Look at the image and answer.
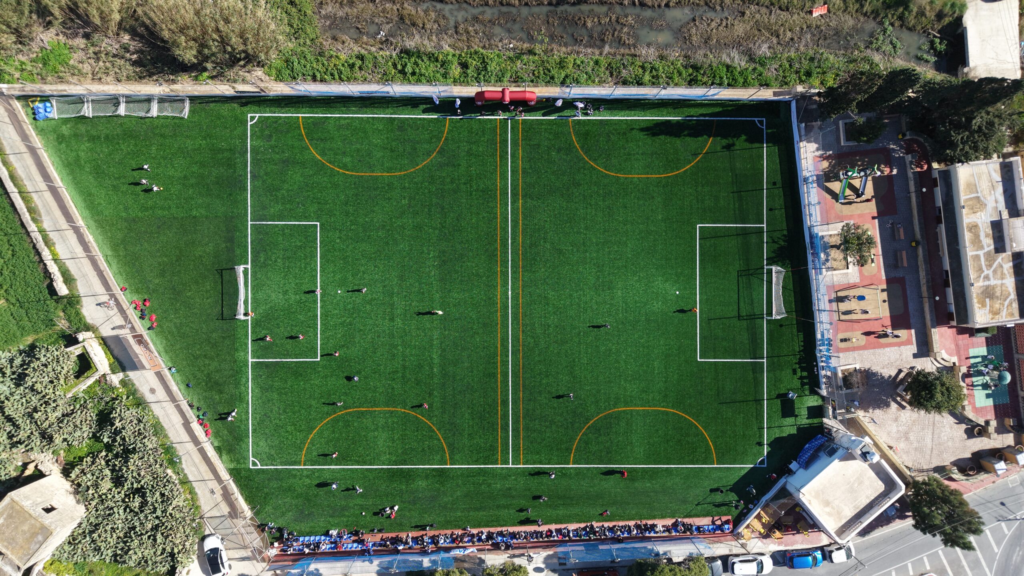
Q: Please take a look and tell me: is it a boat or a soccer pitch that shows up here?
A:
soccer pitch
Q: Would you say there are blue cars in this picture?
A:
Yes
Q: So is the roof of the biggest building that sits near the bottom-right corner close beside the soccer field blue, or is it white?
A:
white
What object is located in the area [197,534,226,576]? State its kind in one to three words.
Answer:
car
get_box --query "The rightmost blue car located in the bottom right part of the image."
[784,548,822,572]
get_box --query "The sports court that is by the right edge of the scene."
[932,324,1024,421]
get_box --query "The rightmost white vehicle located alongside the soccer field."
[727,552,772,576]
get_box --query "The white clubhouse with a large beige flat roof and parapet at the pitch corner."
[784,426,907,545]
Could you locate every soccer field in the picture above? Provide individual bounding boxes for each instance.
[15,97,824,544]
